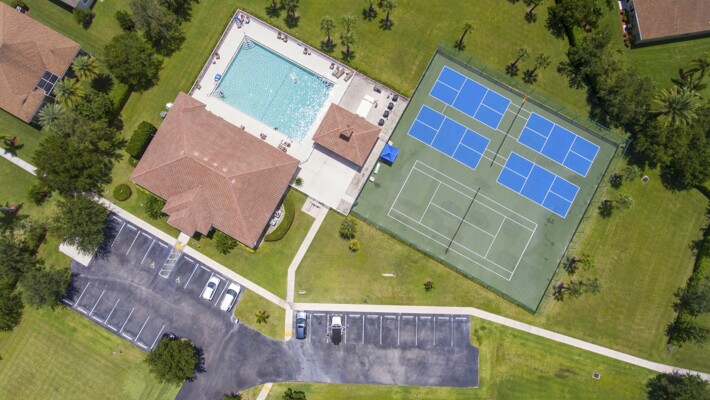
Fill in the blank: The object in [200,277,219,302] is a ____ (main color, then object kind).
white car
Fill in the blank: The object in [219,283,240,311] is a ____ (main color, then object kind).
white car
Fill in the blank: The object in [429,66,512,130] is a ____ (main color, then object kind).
blue sports court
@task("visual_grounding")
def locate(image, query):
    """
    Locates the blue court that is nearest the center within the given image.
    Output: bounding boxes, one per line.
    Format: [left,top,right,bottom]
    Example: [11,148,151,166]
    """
[408,105,490,169]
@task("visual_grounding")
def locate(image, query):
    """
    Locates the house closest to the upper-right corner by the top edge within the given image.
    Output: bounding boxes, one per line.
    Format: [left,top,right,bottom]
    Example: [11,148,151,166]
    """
[623,0,710,46]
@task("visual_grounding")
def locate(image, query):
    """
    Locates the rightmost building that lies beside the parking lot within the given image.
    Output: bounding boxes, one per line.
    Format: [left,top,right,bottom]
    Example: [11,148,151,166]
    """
[132,92,302,247]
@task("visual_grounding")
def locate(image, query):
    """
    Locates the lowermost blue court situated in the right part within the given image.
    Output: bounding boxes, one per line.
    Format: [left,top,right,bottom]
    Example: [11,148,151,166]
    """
[496,152,581,218]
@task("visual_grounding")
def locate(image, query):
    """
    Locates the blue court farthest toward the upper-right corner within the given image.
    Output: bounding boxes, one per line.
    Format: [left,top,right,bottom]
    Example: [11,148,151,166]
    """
[517,112,601,177]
